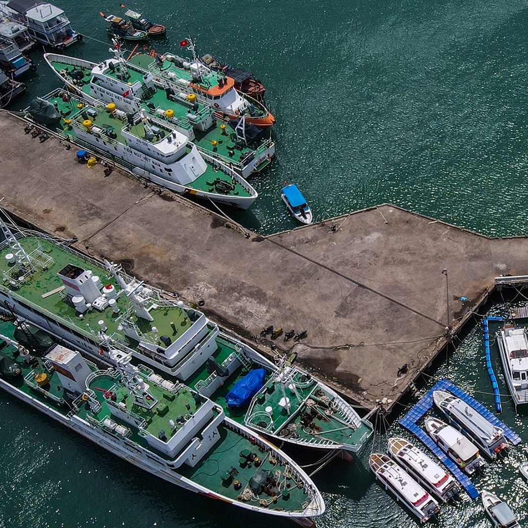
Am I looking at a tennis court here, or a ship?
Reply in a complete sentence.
The one in the frame is a ship.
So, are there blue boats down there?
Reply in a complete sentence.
Yes, looking at the shot, I can spot a blue boat.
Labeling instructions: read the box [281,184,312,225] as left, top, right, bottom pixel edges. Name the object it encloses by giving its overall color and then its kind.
blue boat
